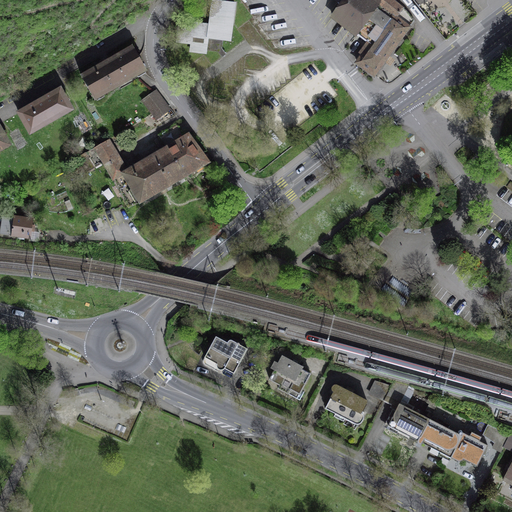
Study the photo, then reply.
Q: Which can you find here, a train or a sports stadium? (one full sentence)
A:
There is a train in the scene.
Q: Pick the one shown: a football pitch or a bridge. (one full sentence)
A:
Visible in the photo is a bridge.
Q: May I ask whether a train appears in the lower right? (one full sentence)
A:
Yes, a train can be seen in the lower right.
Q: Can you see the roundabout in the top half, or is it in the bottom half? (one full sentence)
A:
The roundabout sits in the bottom half of the picture.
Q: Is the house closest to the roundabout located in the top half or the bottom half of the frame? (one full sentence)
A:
You can find the house closest to the roundabout in the bottom half.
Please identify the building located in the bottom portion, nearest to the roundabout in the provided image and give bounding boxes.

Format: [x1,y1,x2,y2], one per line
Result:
[204,336,248,377]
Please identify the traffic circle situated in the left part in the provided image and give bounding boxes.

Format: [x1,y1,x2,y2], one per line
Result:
[84,308,156,381]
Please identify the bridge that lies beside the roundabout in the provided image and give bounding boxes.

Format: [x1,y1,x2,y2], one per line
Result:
[136,266,226,308]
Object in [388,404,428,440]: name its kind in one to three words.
house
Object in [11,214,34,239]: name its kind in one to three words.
house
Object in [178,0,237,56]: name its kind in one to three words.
building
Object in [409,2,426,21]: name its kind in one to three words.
vehicle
